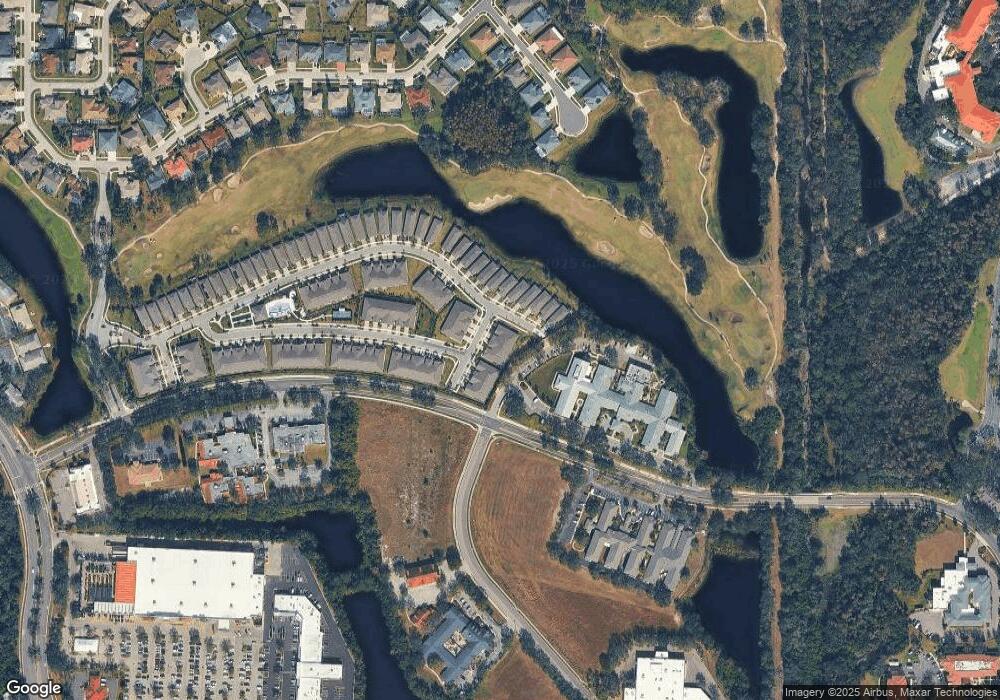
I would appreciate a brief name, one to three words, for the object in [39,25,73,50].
house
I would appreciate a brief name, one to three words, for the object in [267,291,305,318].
swimming pool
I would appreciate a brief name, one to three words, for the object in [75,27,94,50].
house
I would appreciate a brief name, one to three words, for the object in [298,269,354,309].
building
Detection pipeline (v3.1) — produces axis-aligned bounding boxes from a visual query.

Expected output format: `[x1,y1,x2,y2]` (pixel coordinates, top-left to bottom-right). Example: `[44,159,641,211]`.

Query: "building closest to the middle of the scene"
[480,324,520,365]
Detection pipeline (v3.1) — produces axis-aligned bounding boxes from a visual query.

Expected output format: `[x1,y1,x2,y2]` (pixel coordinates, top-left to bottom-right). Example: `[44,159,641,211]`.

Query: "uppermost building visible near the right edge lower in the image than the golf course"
[933,557,991,624]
